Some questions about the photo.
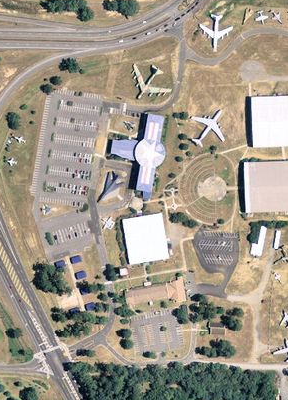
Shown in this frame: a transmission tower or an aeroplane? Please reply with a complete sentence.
There is an aeroplane in the scene.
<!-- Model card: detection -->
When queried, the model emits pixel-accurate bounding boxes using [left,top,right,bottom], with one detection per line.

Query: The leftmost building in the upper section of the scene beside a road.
[111,114,165,199]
